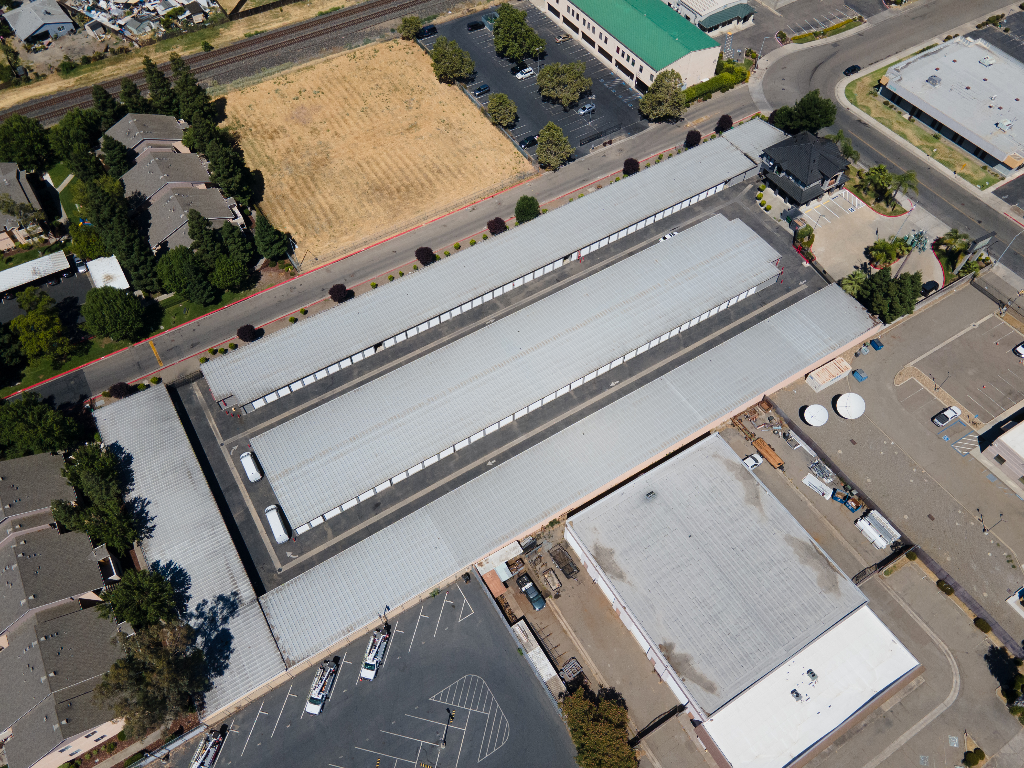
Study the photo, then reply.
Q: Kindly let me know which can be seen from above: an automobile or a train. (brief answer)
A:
automobile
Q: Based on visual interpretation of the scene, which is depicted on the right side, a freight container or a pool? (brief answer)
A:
freight container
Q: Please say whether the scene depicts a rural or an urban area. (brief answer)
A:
urban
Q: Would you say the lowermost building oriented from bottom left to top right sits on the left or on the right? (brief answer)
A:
right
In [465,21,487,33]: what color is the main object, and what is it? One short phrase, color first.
black vehicle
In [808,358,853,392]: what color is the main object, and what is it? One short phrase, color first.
white shipping container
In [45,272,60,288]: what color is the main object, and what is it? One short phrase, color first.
black car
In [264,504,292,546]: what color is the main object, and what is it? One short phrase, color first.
white van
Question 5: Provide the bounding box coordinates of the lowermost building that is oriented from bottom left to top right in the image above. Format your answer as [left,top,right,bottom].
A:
[693,602,929,768]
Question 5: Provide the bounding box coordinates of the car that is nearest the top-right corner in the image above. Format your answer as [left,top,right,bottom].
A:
[842,66,862,78]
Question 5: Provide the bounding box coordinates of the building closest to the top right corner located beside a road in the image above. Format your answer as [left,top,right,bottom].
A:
[874,18,1024,175]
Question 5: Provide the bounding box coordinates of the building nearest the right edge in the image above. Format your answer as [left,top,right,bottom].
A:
[983,416,1024,490]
